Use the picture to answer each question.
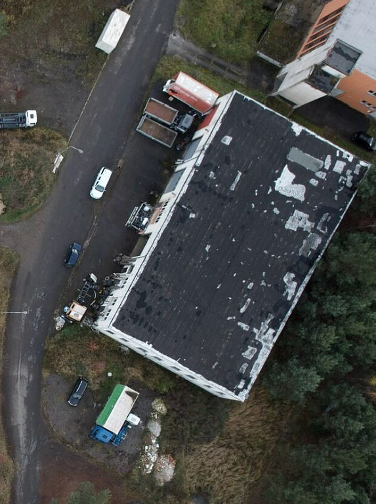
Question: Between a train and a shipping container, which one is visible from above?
shipping container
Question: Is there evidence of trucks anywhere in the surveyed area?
Yes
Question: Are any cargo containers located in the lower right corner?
No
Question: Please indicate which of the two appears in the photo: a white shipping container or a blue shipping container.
white shipping container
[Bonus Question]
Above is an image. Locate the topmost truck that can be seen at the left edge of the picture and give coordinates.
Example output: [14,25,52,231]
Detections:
[0,107,40,129]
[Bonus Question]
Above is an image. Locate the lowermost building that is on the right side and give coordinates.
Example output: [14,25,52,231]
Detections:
[95,92,370,399]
